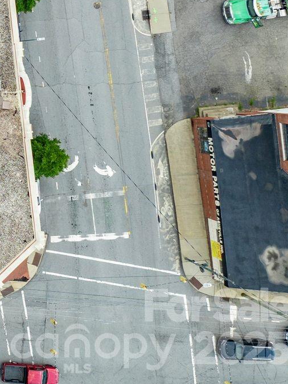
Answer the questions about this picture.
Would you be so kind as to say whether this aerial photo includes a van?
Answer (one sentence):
Yes, a van is visible in the scene.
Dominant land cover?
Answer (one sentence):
The largest share of the image is taken up by paved ground.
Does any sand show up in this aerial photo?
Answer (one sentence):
No, there is no sand in the image.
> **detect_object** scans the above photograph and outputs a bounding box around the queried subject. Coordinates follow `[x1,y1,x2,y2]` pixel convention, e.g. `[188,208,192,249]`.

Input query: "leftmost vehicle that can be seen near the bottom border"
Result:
[0,360,59,384]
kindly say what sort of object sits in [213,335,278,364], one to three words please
van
